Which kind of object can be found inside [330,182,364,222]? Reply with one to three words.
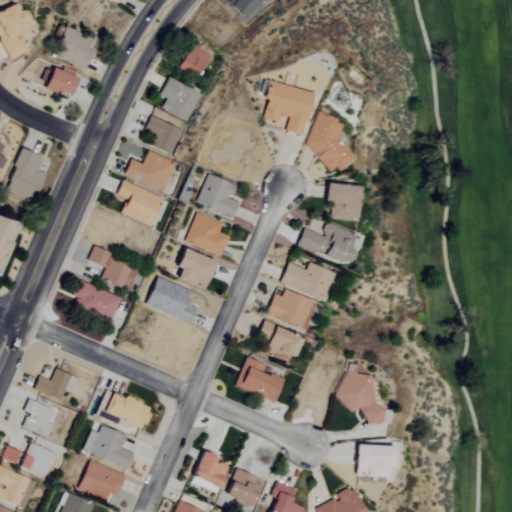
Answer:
house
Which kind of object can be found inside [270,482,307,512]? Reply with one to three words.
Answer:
house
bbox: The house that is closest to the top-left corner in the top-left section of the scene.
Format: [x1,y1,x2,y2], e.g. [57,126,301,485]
[0,2,38,61]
